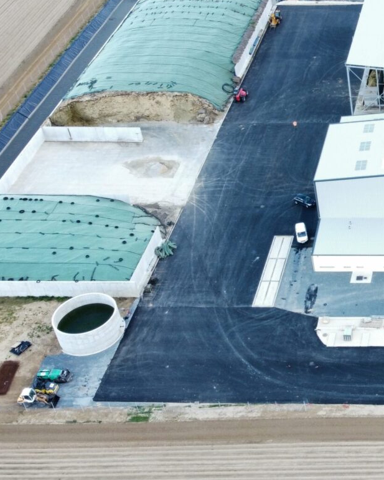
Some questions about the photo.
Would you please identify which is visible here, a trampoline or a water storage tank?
water storage tank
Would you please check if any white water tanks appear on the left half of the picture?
Yes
